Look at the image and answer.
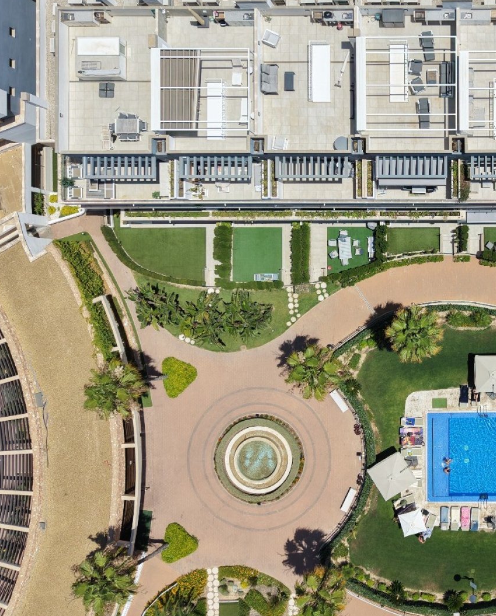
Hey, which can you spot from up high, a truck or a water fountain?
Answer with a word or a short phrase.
water fountain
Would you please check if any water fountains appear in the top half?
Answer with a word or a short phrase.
No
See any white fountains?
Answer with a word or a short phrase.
Yes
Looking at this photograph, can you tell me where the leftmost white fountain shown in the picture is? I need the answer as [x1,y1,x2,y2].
[226,422,297,493]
